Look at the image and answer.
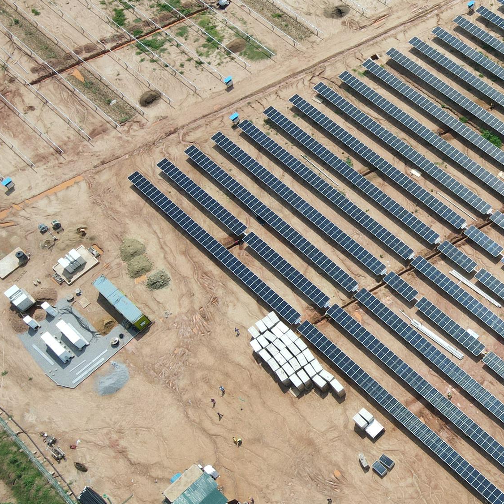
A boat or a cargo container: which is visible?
cargo container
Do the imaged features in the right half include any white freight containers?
No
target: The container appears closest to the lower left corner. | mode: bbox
[4,284,34,310]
